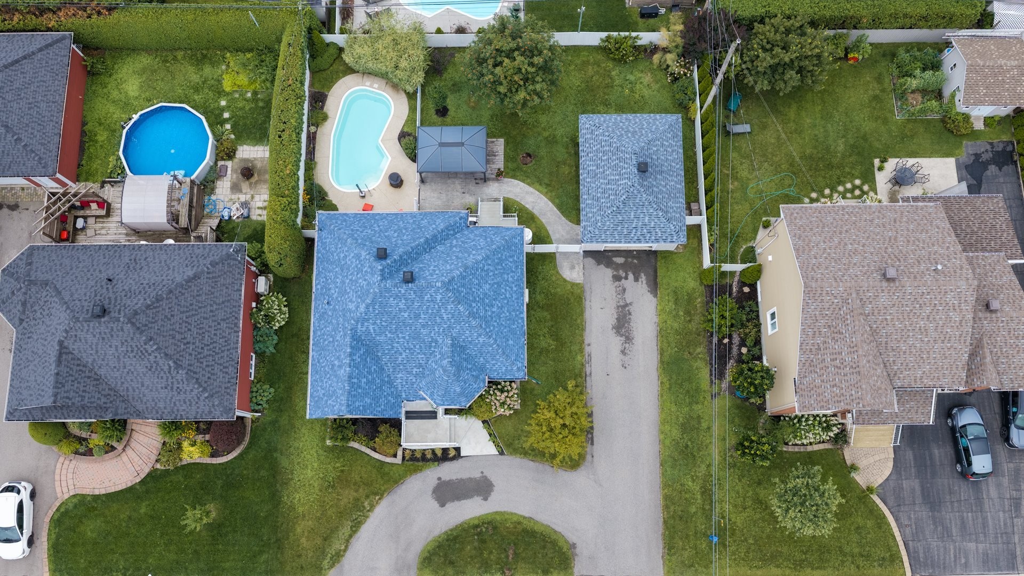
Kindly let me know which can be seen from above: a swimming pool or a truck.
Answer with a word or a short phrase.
swimming pool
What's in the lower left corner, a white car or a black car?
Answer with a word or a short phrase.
white car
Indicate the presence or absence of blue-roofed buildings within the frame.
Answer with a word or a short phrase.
Yes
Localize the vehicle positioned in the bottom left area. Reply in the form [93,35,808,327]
[0,481,35,558]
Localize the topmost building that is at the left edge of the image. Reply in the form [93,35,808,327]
[0,31,89,185]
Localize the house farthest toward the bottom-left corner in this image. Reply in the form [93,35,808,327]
[0,241,259,425]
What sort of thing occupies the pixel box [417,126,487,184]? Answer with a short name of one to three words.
gazebo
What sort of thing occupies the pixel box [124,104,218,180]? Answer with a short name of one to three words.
swimming pool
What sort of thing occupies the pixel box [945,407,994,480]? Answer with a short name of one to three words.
car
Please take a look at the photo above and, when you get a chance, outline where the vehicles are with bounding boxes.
[945,407,994,480]
[0,481,35,558]
[1003,390,1024,447]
